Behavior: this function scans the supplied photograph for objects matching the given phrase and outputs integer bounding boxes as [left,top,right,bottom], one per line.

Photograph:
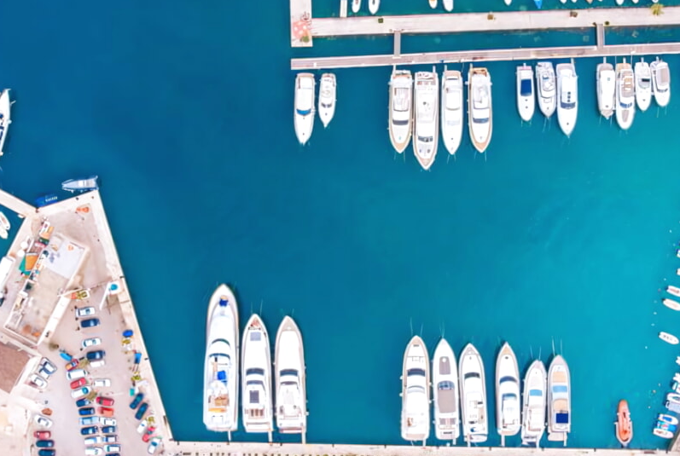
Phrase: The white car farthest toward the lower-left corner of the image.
[34,415,52,427]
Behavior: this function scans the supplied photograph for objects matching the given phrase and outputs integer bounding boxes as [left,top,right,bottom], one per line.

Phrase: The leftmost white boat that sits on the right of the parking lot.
[203,272,241,442]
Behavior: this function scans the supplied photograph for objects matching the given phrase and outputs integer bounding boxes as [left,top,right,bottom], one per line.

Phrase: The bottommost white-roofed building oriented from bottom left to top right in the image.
[12,351,46,398]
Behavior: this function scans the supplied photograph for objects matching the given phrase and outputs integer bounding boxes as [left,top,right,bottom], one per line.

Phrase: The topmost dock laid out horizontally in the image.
[312,7,680,37]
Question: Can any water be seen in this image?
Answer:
Yes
